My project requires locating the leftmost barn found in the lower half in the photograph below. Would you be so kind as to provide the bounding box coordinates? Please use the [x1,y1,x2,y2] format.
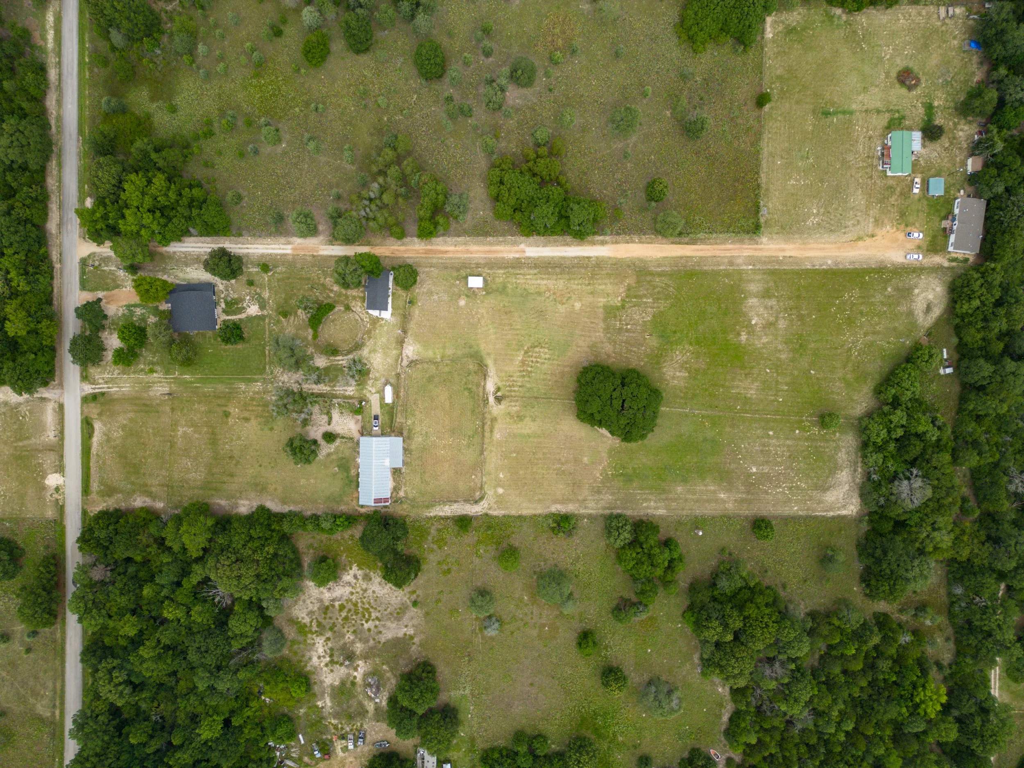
[360,436,403,505]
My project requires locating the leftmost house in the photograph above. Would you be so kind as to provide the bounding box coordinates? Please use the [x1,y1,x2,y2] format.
[165,283,219,331]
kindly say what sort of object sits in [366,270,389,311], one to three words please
house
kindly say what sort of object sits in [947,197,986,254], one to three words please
house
